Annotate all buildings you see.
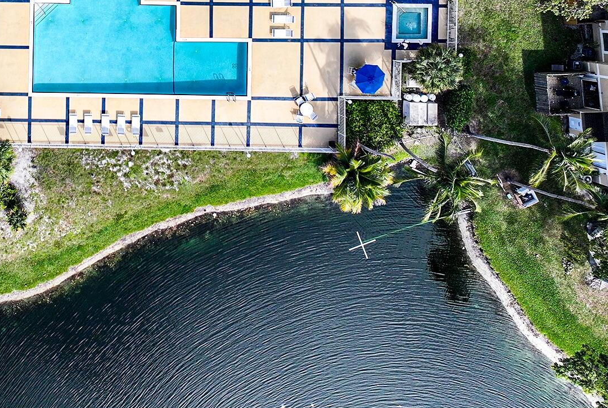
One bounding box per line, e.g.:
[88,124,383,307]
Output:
[397,99,436,125]
[578,59,608,198]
